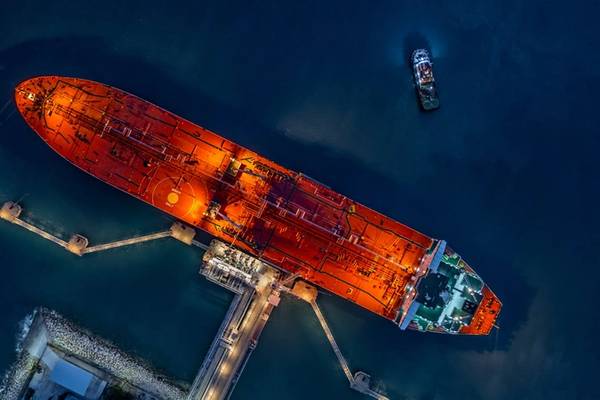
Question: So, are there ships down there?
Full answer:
Yes, the frame does contain a ship.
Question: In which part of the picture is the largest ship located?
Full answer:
You can find the largest ship in the center area of the picture.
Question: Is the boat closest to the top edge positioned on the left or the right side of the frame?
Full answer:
The boat closest to the top edge sits on the right side.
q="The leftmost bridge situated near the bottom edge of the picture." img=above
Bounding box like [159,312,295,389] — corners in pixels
[188,281,273,400]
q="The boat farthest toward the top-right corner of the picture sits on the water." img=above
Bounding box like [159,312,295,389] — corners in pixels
[411,49,439,111]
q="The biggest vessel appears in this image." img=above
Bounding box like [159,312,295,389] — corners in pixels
[12,76,504,334]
